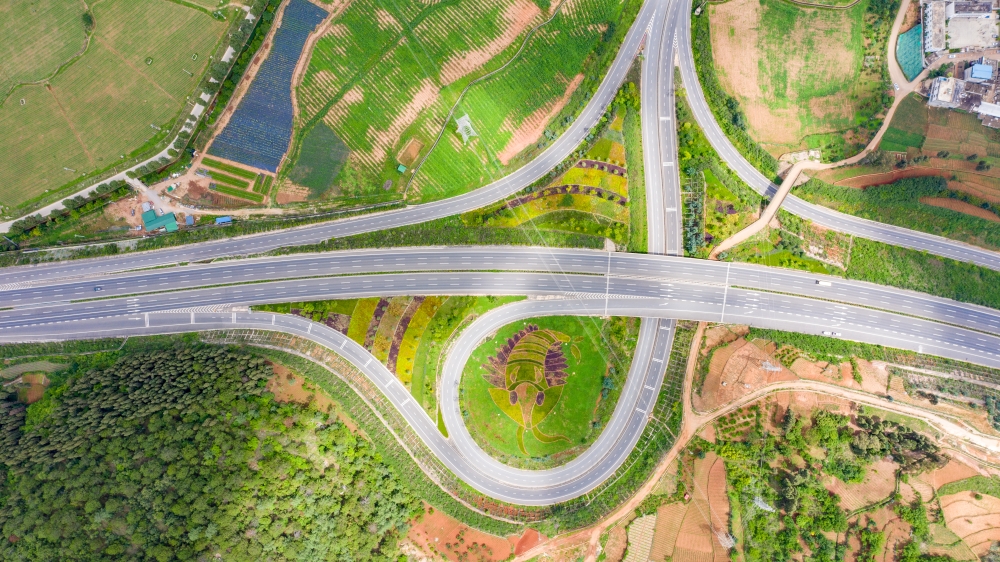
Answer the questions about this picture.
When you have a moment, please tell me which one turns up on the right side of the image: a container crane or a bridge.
bridge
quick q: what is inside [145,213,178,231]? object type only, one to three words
shed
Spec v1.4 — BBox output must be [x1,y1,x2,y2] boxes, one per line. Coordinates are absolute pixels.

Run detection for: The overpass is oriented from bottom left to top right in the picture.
[748,162,811,236]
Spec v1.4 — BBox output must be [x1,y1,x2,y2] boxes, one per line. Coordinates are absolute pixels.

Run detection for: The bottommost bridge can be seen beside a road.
[605,250,729,322]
